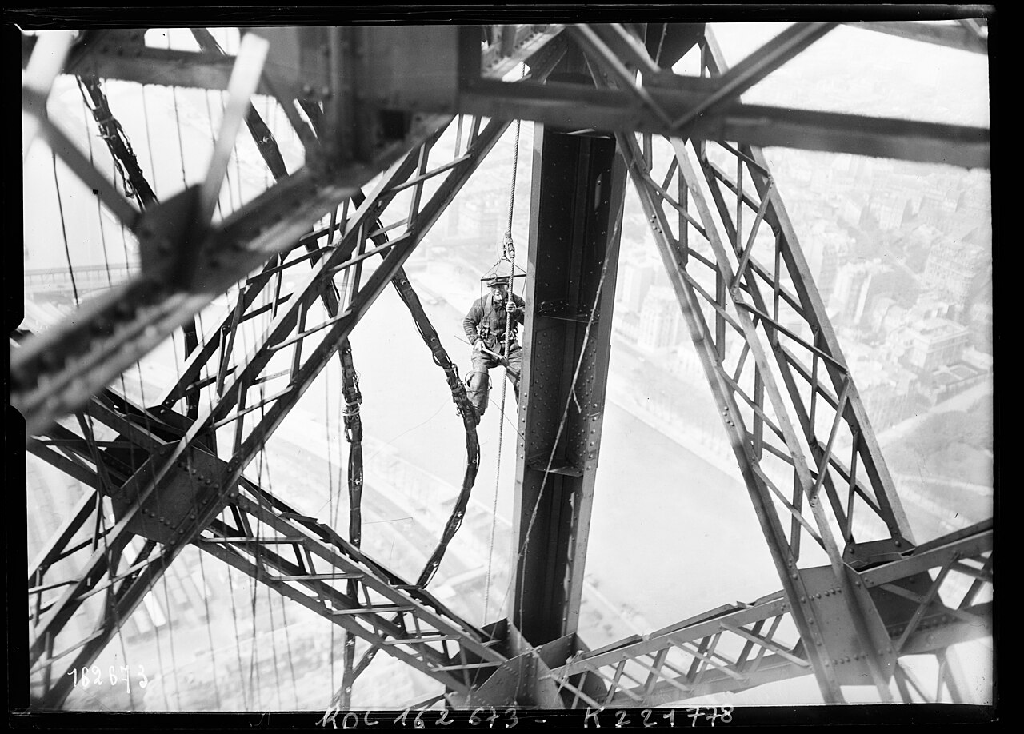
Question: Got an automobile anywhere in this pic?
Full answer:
No, the photo shows no automobile.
